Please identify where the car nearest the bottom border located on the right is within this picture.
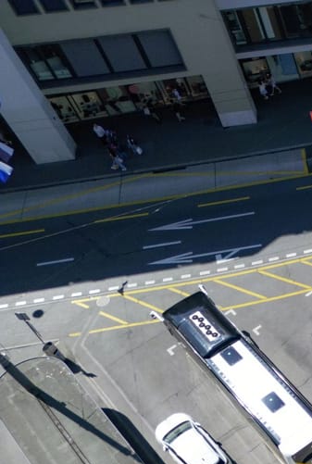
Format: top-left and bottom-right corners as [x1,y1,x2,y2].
[159,413,229,464]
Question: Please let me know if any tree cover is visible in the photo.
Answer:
No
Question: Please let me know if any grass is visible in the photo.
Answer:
No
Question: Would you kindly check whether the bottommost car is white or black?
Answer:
white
